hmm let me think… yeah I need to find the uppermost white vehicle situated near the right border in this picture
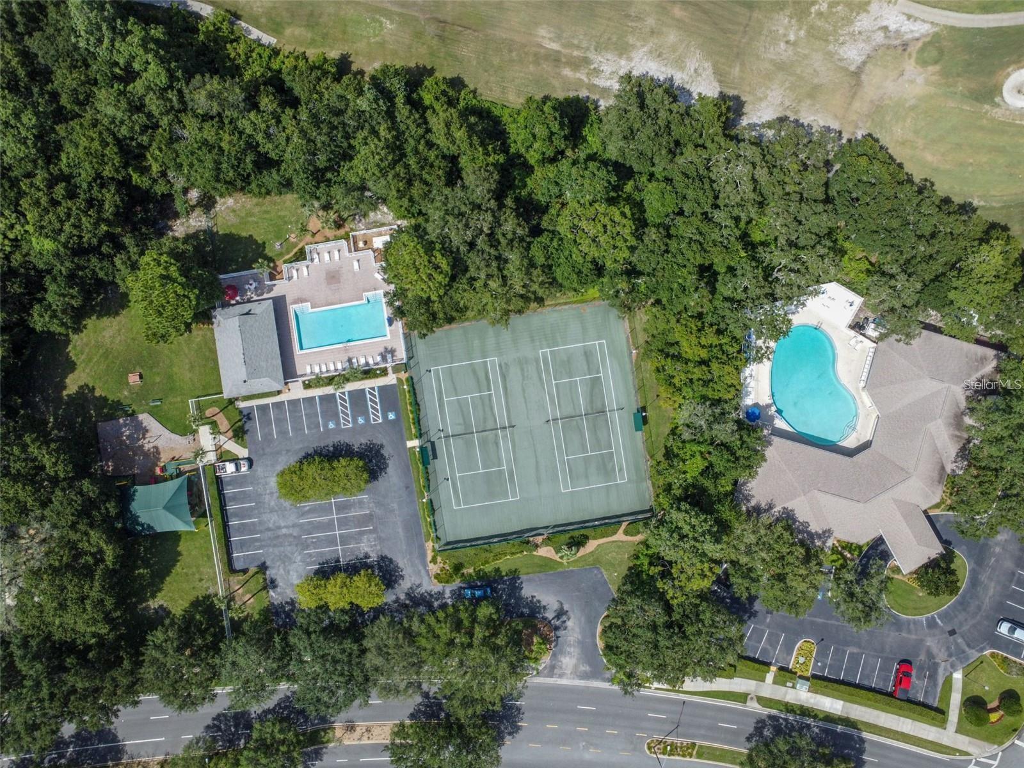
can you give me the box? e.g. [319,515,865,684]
[995,621,1024,641]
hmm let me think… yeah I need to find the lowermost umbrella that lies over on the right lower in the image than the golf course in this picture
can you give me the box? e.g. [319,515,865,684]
[746,407,760,422]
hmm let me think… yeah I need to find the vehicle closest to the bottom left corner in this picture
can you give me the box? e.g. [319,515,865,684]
[213,459,251,475]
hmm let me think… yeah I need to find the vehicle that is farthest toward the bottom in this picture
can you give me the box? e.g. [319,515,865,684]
[893,661,914,700]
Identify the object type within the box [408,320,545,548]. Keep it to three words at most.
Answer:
tennis court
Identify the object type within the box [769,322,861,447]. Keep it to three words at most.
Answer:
swimming pool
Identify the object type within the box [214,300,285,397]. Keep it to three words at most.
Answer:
building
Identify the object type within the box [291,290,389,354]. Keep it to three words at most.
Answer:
swimming pool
